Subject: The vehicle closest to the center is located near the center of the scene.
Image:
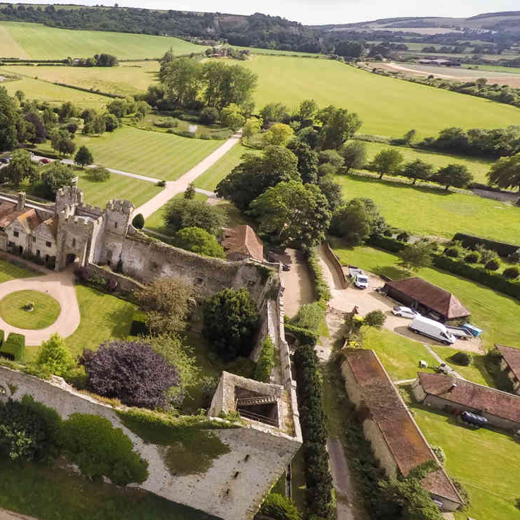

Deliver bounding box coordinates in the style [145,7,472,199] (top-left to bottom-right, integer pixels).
[283,259,297,272]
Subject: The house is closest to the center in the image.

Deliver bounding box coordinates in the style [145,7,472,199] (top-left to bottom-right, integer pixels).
[215,216,261,260]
